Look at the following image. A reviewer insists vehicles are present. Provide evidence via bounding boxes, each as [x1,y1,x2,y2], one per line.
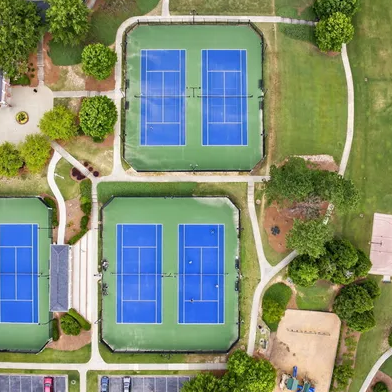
[99,376,109,392]
[121,377,130,392]
[41,377,52,392]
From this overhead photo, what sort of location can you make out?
sports ground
